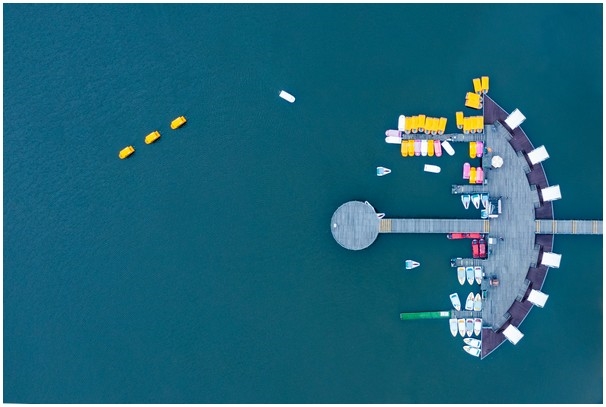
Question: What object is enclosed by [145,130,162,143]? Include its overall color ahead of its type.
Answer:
yellow boat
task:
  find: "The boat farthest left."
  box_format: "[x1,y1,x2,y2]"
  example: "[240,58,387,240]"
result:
[119,145,136,158]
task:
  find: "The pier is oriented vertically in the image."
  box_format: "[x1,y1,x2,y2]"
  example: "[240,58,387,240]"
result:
[481,93,554,360]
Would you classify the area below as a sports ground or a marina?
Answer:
marina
